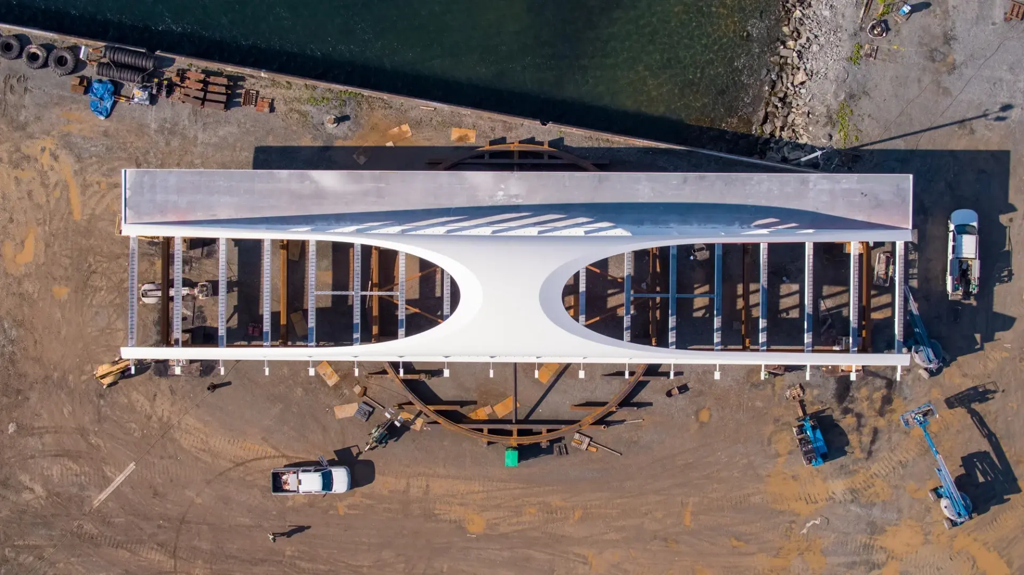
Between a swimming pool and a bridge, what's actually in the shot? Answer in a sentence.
It is a bridge that can be seen here.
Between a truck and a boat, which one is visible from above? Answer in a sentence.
The one in the frame is a truck.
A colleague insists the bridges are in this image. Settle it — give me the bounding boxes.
[115,170,917,380]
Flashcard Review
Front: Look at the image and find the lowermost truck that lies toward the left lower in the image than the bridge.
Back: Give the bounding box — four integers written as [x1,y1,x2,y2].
[270,453,352,495]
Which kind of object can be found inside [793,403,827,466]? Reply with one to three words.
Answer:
work vehicle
